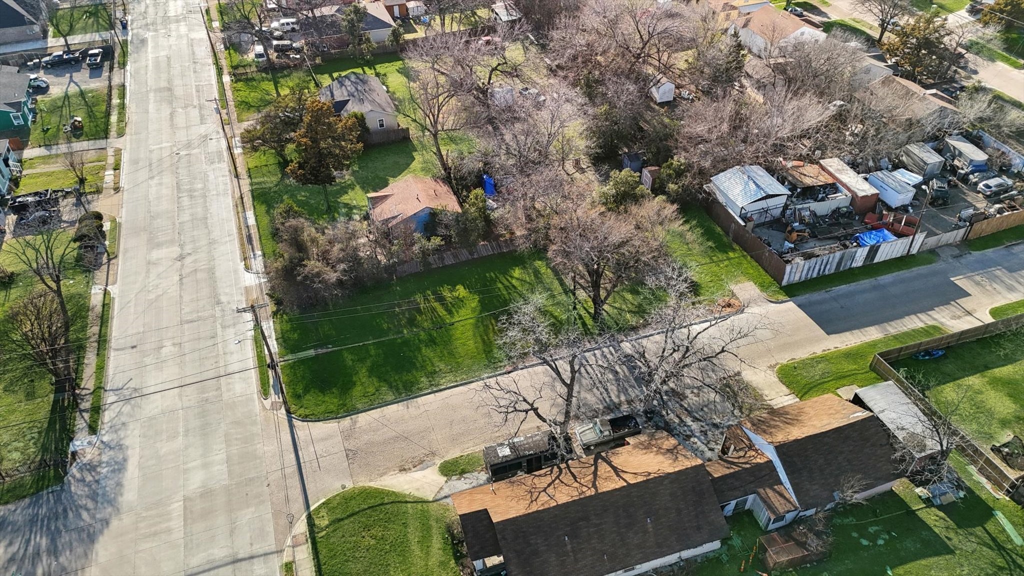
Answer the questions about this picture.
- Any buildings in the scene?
Yes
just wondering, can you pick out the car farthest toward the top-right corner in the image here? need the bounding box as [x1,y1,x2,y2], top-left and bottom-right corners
[961,2,979,15]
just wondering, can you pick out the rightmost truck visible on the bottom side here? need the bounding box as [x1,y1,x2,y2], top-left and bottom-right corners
[575,409,641,447]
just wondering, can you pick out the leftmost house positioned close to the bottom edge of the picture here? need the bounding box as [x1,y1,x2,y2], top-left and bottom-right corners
[450,425,734,576]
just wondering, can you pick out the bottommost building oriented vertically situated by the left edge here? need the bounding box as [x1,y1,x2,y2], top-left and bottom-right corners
[0,135,31,204]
